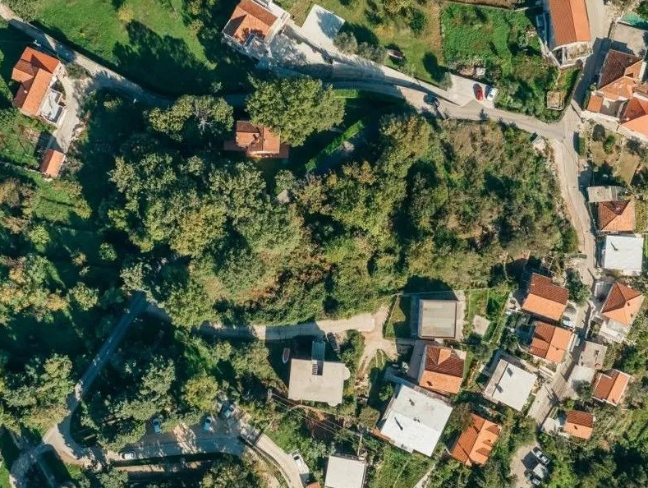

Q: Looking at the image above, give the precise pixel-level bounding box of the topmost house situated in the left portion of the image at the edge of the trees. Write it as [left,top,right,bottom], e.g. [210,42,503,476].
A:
[223,0,291,61]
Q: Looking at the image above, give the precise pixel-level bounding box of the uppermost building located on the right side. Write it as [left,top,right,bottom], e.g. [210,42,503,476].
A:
[539,0,594,68]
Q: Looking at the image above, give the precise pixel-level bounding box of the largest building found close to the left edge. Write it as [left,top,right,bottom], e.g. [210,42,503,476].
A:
[12,46,67,122]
